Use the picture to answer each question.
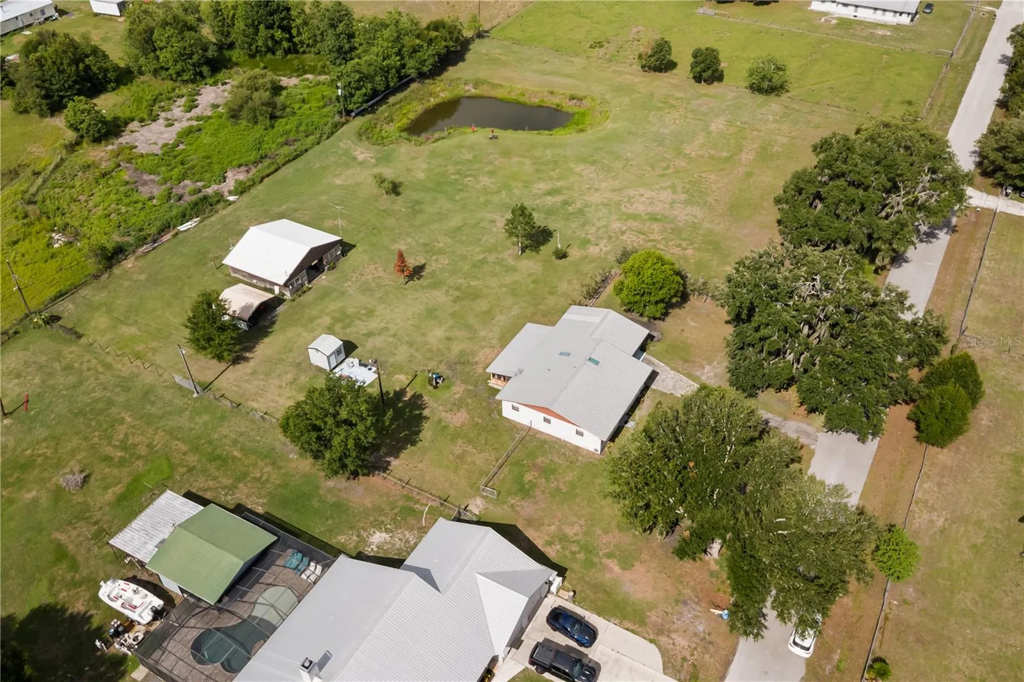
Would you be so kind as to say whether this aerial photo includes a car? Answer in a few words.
Yes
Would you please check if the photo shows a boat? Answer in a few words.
Yes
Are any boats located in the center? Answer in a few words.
No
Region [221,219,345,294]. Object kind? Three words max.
barn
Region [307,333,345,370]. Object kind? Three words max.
shed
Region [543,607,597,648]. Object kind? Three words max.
car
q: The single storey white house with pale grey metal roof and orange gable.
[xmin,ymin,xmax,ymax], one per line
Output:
[487,307,654,454]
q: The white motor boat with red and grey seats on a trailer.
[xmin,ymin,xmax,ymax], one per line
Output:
[99,583,164,624]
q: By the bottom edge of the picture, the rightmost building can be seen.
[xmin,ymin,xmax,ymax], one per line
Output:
[228,518,556,682]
